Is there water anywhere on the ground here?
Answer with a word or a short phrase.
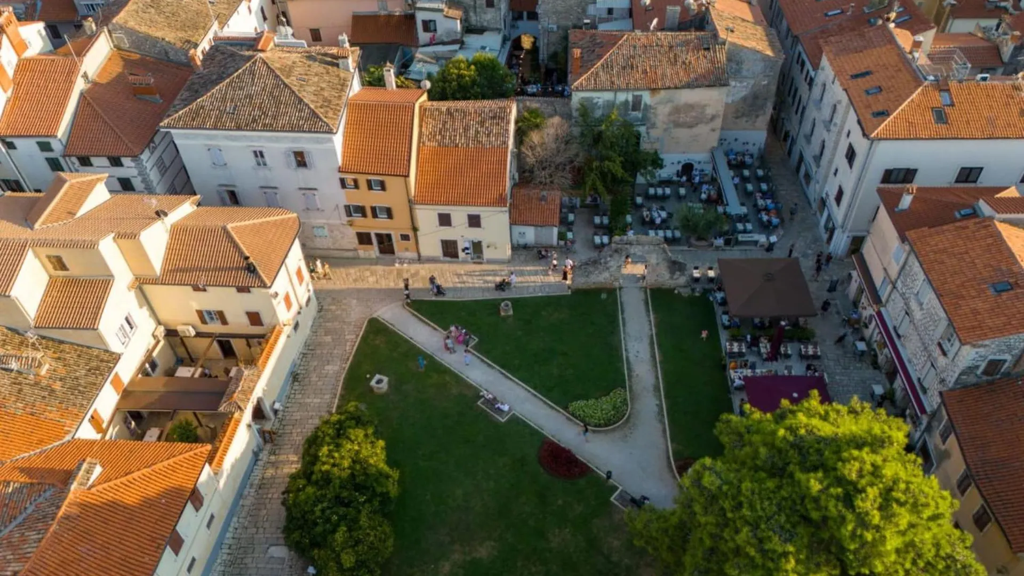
No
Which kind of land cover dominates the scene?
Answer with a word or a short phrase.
buildings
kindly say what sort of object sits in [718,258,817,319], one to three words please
umbrella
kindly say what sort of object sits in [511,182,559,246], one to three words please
shed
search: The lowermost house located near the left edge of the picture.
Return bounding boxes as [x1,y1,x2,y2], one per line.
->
[0,437,233,576]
